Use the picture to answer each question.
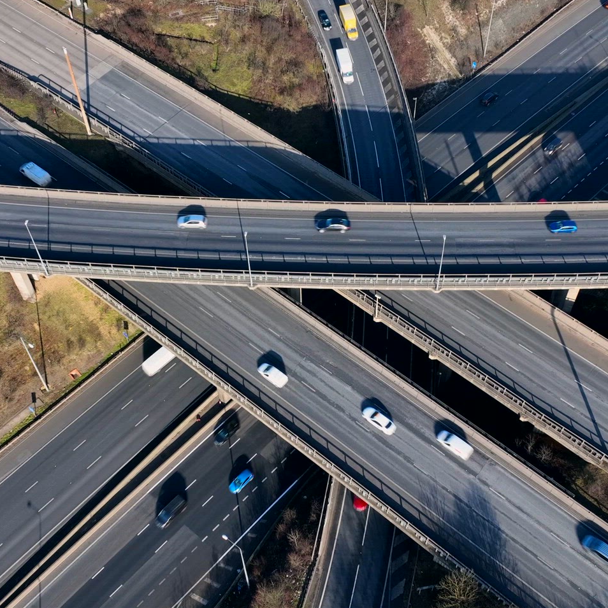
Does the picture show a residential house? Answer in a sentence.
No, there isn't any residential house down there.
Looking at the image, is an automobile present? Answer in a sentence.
Yes, the frame does contain an automobile.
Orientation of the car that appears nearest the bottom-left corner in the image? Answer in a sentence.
In this picture, the car that appears nearest the bottom-left corner is oriented diagonally.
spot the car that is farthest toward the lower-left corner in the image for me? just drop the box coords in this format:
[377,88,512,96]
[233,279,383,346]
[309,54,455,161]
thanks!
[155,497,188,528]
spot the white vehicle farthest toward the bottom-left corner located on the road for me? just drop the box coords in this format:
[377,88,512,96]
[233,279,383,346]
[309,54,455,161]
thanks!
[146,350,172,375]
